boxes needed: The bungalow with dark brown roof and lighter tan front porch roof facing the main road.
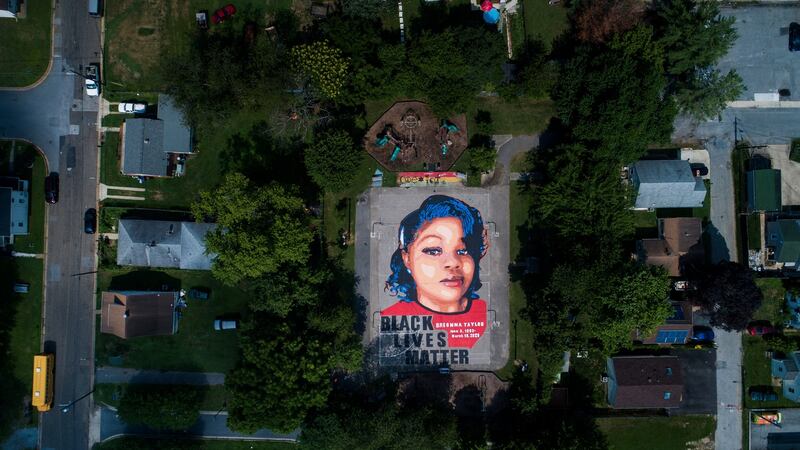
[100,291,187,338]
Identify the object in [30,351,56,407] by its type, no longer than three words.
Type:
bus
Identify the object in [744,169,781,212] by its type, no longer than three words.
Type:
shed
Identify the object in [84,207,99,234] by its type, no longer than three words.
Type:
car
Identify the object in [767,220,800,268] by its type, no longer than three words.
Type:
house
